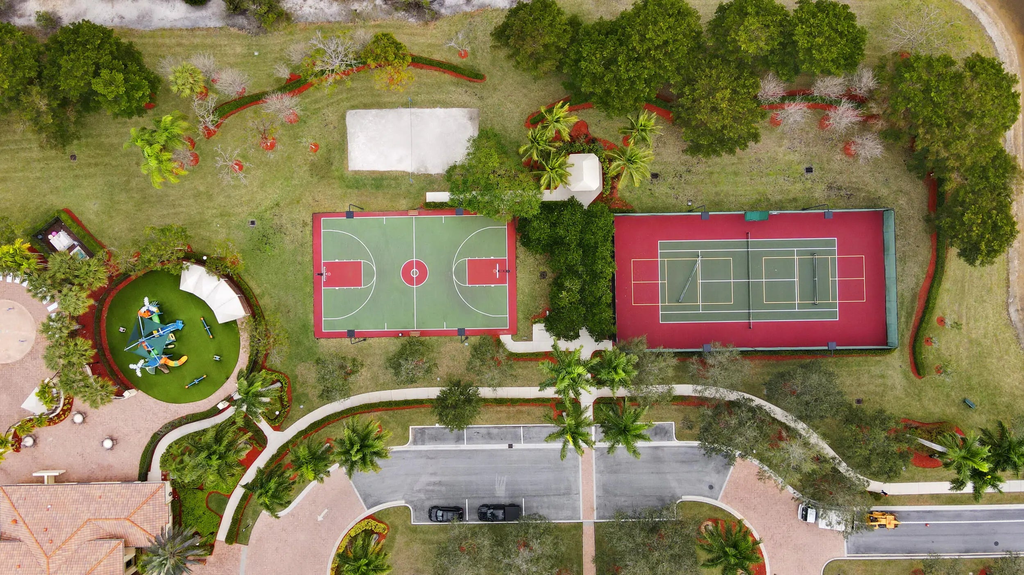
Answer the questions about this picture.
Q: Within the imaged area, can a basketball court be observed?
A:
Yes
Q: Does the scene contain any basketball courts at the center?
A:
Yes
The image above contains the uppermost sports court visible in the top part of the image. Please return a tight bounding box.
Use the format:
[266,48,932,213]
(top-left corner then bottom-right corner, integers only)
[347,108,478,174]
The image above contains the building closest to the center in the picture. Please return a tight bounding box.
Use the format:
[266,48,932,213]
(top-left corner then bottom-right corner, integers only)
[566,153,599,192]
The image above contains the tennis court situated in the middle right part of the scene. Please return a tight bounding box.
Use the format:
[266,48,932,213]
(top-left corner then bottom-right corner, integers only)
[612,211,888,349]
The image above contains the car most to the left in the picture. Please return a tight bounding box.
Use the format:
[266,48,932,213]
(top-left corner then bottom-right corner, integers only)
[429,507,464,525]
